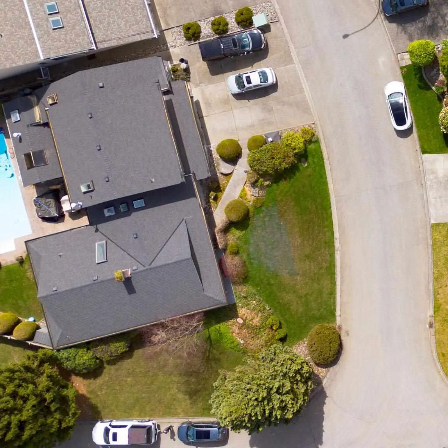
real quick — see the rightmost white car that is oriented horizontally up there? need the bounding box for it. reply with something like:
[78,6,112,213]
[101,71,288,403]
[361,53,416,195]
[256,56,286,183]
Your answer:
[227,68,278,94]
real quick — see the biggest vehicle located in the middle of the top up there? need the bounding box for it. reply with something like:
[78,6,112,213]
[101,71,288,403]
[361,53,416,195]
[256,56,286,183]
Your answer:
[197,30,267,62]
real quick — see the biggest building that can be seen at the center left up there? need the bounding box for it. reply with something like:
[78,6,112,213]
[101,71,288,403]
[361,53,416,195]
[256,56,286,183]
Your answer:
[2,55,228,349]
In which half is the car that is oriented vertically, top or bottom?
top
